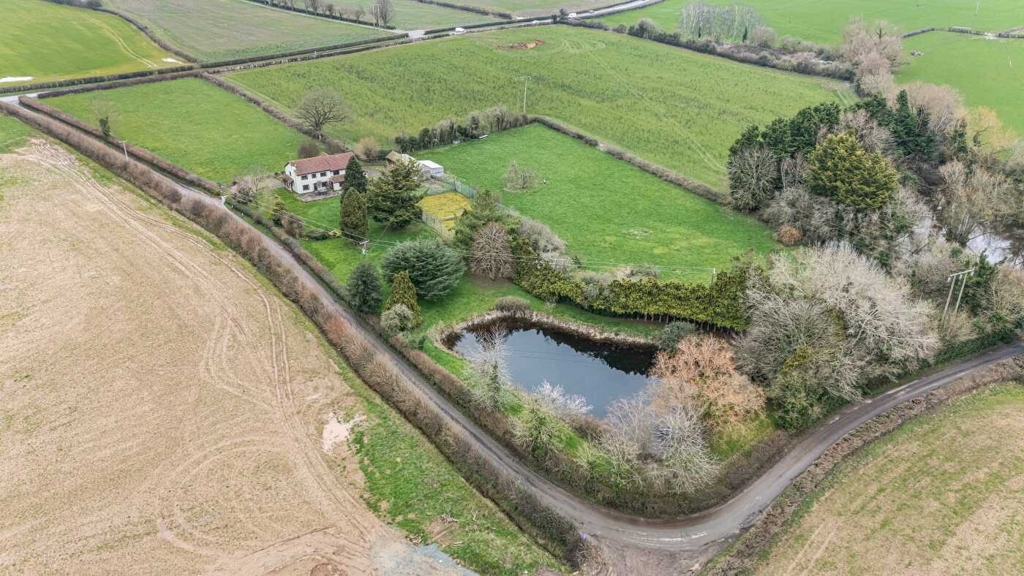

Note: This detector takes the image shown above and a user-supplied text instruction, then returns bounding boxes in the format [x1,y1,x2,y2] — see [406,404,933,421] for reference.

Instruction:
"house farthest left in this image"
[282,148,351,193]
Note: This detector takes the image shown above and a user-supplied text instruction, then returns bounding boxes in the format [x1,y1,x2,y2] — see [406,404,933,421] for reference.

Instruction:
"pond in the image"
[450,324,670,425]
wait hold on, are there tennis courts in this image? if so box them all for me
[418,190,475,238]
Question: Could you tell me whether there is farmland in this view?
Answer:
Yes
